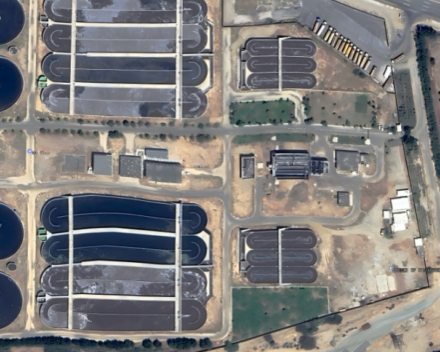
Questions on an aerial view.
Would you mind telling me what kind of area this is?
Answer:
industrial area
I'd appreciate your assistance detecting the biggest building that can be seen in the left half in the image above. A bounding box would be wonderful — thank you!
[144,160,182,184]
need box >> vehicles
[370,66,378,76]
[335,35,344,49]
[342,39,350,54]
[339,38,347,51]
[314,17,320,33]
[345,43,354,57]
[364,56,373,71]
[353,48,361,63]
[360,52,369,69]
[356,51,364,66]
[331,33,339,46]
[349,46,357,60]
[328,29,337,43]
[324,27,333,41]
[317,21,327,35]
[392,53,405,63]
